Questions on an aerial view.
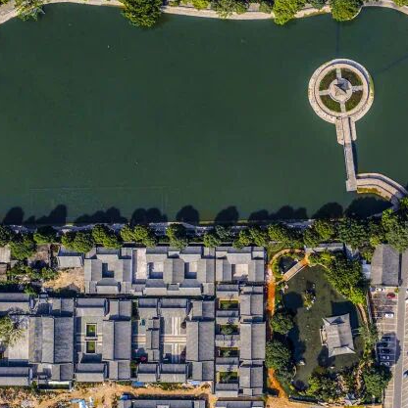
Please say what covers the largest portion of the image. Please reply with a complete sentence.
For the most part, this view shows water.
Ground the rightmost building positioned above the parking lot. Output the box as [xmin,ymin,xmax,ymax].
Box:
[371,245,399,286]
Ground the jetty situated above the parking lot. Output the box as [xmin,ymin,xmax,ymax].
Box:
[356,172,406,210]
